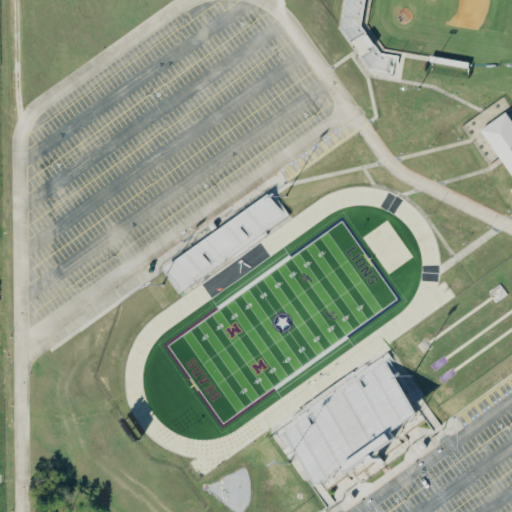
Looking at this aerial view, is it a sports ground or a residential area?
sports ground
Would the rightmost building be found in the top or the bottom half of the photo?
top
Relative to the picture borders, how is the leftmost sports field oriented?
diagonally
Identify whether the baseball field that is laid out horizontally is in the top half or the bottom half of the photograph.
top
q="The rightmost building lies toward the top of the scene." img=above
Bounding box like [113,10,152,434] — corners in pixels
[482,113,512,174]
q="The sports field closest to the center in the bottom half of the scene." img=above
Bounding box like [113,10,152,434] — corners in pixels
[144,206,422,440]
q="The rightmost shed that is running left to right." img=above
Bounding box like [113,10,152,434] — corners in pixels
[428,56,472,78]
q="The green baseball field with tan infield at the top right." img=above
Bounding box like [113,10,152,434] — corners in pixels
[369,0,512,66]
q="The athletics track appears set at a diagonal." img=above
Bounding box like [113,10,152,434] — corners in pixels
[126,187,455,475]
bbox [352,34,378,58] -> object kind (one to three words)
building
